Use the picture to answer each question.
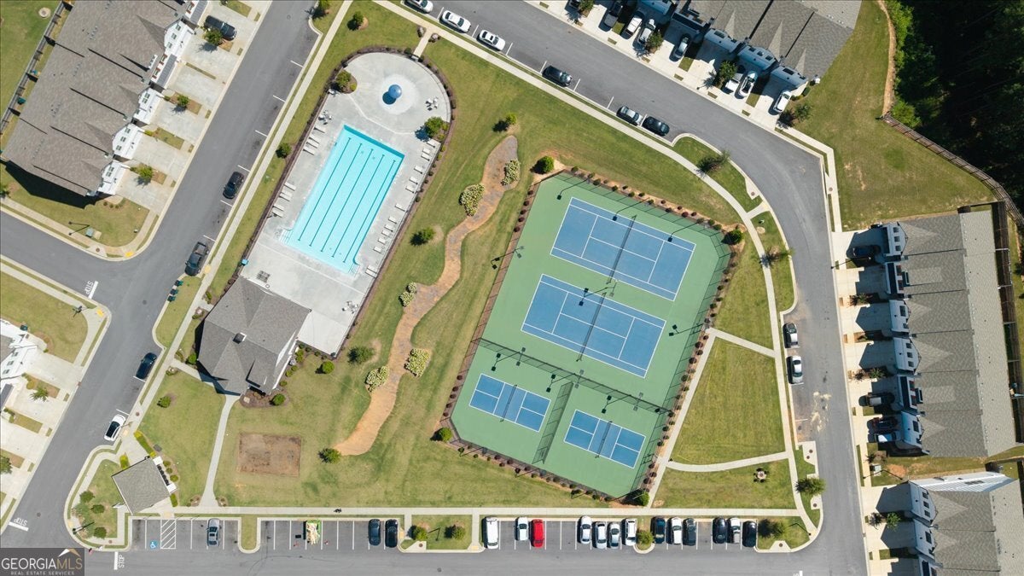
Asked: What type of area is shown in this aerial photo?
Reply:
residential area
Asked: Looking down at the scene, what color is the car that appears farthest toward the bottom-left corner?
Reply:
white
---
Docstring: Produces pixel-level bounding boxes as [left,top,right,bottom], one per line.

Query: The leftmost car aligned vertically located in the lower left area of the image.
[207,517,221,546]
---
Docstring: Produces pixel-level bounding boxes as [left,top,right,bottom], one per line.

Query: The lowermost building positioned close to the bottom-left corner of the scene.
[112,456,174,515]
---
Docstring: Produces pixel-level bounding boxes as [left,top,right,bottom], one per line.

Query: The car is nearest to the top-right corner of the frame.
[772,87,792,115]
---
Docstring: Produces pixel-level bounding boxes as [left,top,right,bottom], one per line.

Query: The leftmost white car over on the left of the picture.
[104,414,127,441]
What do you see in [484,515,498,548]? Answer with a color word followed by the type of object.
white vehicle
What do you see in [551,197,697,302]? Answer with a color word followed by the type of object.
blue tennis court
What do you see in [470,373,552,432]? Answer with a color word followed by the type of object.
blue sports court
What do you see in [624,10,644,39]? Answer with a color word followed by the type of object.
white car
